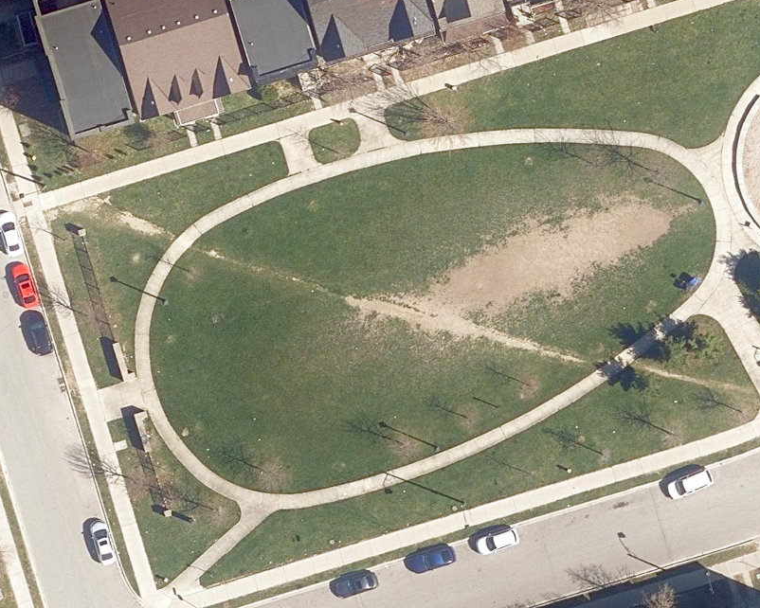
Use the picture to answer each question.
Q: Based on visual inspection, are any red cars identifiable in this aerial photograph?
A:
Yes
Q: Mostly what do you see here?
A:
grass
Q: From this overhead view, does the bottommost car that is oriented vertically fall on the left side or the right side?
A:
left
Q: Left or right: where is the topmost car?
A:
left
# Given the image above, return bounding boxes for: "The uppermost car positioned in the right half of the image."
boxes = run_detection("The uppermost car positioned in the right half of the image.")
[666,469,716,499]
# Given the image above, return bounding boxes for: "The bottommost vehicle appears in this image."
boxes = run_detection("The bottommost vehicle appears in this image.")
[334,572,381,599]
